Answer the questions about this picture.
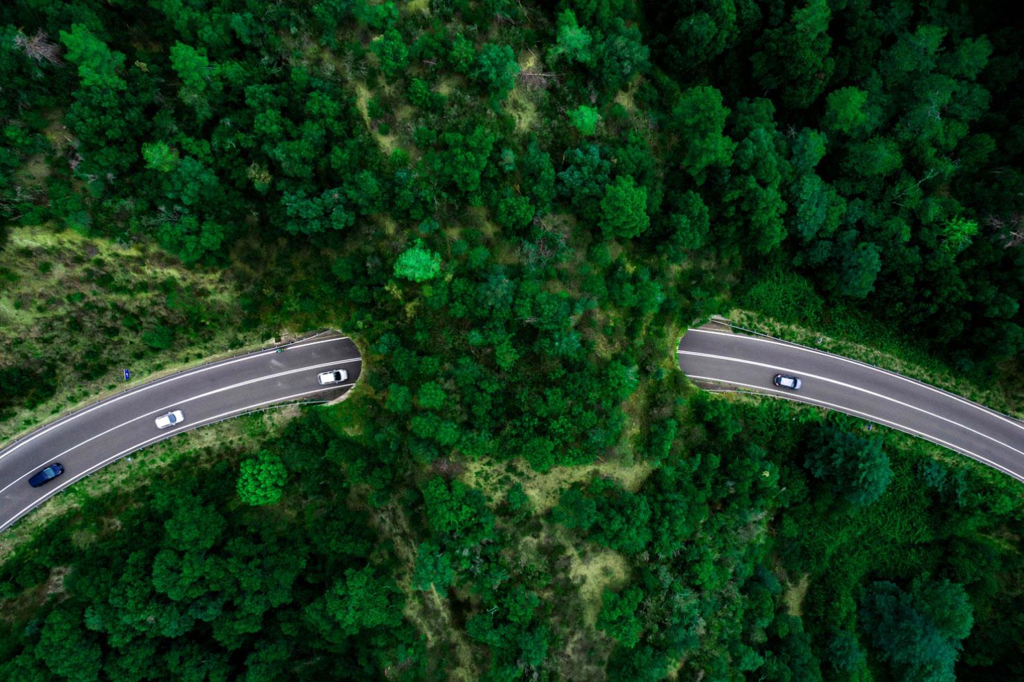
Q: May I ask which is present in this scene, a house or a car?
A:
car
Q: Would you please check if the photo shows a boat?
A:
No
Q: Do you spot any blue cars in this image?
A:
Yes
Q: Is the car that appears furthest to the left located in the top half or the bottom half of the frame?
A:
bottom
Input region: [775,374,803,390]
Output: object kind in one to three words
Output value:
car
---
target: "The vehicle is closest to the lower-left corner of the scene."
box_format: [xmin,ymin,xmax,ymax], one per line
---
[27,464,61,488]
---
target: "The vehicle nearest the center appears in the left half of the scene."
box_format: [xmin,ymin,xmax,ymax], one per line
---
[317,369,347,385]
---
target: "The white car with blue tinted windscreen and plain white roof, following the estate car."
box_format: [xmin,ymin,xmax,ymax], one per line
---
[152,410,182,428]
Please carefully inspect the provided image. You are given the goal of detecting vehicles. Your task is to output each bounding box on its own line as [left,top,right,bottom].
[27,464,61,488]
[775,374,803,390]
[317,369,347,385]
[152,410,182,428]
